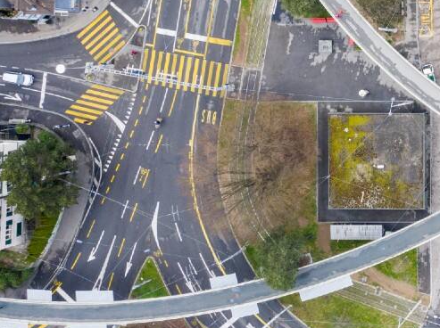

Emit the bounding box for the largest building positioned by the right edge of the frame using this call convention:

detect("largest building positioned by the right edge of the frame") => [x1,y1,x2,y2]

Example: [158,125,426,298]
[327,113,428,210]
